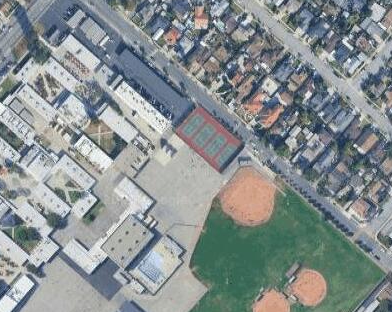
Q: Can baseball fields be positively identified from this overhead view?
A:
Yes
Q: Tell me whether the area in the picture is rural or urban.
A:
urban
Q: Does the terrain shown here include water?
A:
No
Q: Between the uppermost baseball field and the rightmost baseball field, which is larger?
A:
the uppermost baseball field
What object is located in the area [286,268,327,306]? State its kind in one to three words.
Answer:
baseball field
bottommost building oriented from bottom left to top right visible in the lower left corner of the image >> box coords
[0,276,35,312]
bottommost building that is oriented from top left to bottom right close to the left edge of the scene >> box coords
[0,234,28,267]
